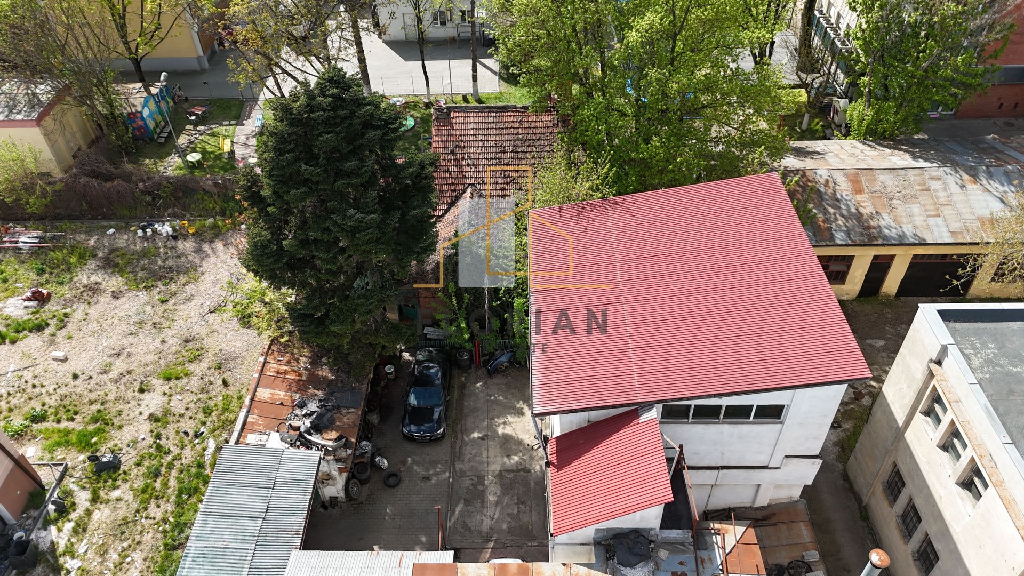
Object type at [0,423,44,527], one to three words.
building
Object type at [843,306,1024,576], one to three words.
building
